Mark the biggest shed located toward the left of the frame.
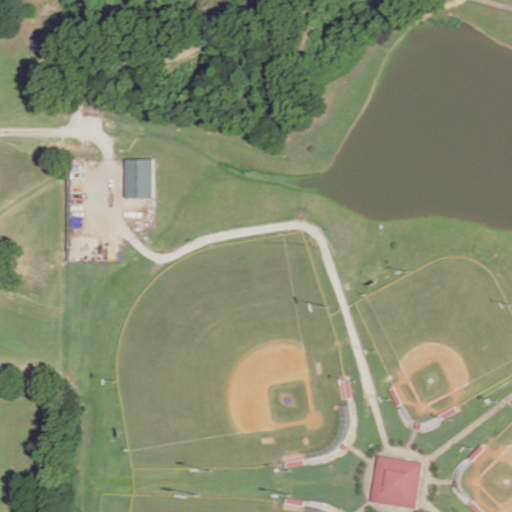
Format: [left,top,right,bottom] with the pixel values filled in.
[124,158,154,198]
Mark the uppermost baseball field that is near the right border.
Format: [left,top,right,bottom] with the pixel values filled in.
[357,257,512,423]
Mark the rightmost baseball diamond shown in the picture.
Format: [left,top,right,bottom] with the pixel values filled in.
[461,422,512,512]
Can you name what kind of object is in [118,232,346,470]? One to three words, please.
baseball field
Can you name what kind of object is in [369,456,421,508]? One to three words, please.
building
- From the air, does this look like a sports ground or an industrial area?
sports ground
